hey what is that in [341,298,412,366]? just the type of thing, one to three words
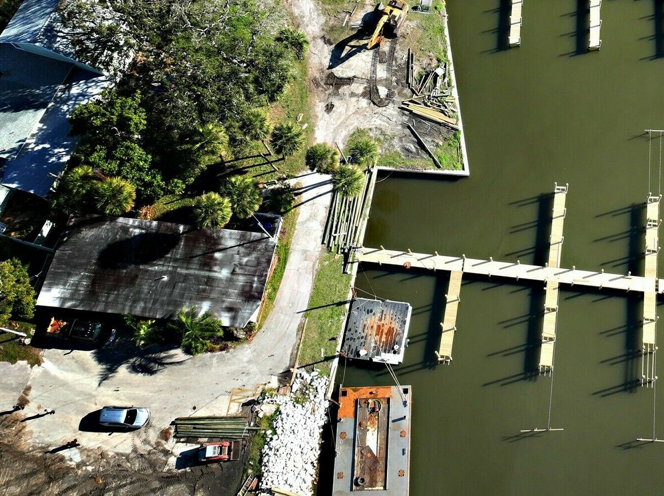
ship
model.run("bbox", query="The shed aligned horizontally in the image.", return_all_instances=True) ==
[36,215,276,331]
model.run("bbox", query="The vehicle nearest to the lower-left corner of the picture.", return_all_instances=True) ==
[94,405,149,432]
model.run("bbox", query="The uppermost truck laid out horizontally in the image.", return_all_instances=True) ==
[44,317,112,347]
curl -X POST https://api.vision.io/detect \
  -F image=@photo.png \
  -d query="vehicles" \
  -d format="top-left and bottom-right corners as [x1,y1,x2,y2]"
[198,440,241,463]
[44,317,112,347]
[94,405,149,432]
[367,0,414,53]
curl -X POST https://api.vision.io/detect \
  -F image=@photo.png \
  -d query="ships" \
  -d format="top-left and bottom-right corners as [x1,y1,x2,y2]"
[331,386,412,496]
[341,298,412,366]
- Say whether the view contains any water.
Yes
